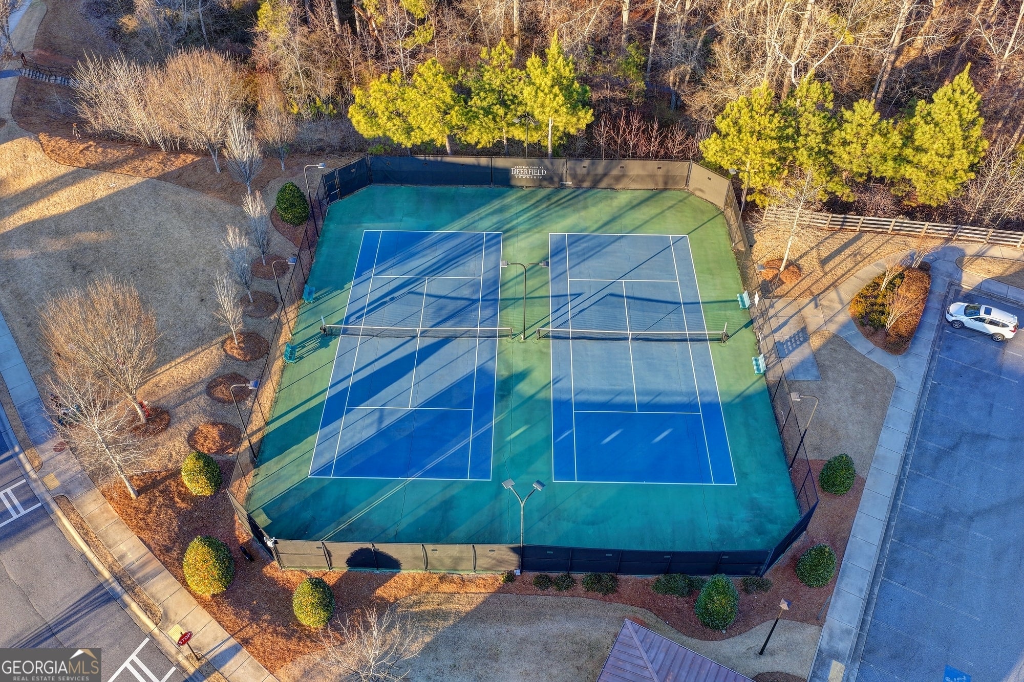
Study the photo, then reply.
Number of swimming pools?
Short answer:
none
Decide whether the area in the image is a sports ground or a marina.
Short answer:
sports ground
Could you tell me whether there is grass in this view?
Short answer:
Yes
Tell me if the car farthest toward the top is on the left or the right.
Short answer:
right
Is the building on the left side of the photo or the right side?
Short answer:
right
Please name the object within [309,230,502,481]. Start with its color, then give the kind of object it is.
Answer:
blue tennis court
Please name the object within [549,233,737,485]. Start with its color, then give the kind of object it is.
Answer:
blue tennis court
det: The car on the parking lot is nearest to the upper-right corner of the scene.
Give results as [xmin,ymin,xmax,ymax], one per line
[945,302,1021,342]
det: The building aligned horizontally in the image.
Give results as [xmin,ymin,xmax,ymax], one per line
[595,617,756,682]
